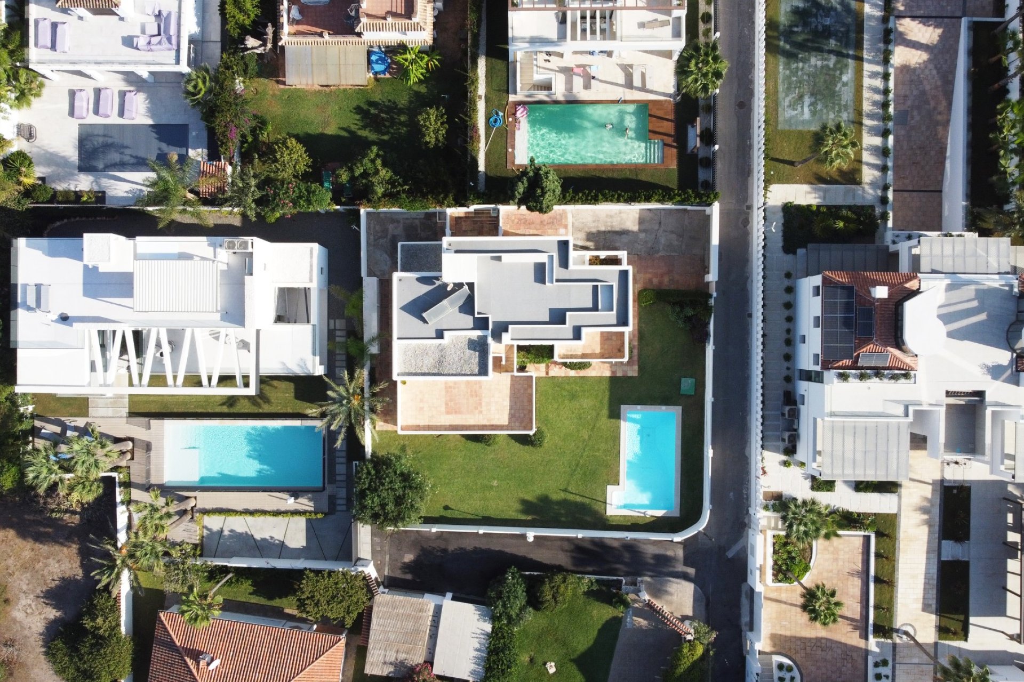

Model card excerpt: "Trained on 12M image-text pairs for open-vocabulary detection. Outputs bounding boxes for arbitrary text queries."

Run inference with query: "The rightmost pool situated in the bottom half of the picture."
[606,404,682,516]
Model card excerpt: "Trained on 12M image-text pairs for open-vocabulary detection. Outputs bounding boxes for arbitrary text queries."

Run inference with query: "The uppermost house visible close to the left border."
[31,0,196,82]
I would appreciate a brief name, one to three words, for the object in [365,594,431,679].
shed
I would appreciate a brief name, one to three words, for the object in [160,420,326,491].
swimming pool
